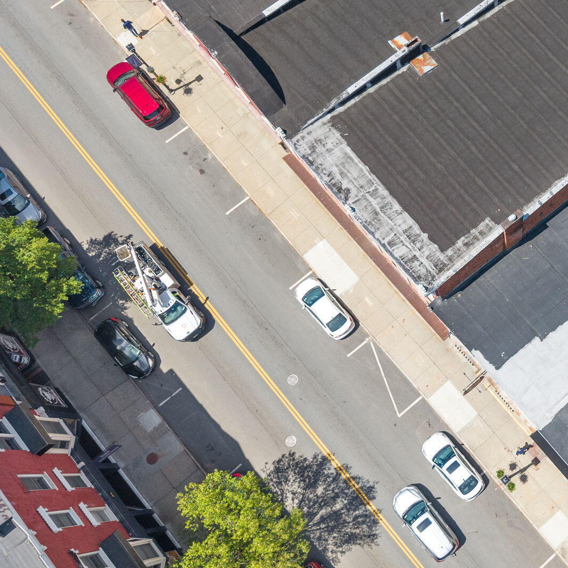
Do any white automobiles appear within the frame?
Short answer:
Yes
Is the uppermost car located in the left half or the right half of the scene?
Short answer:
left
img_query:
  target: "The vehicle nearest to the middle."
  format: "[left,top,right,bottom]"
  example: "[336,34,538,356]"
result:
[295,274,359,345]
